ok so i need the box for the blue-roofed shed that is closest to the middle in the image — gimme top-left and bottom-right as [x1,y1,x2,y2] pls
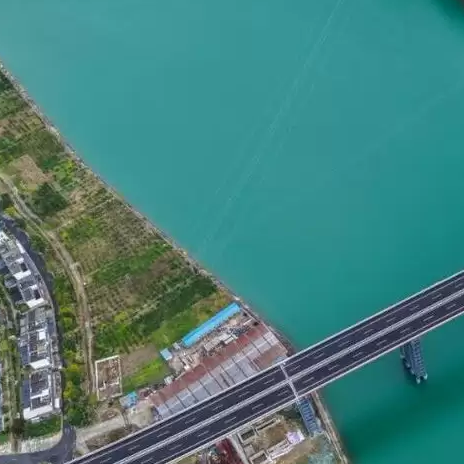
[182,302,243,349]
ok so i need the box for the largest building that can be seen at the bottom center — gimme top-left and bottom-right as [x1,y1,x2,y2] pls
[148,321,293,417]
